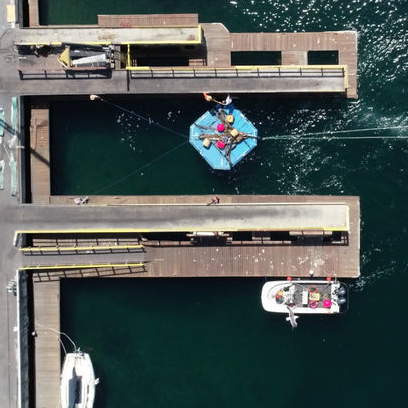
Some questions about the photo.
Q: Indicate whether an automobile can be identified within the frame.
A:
No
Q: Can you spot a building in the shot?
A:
No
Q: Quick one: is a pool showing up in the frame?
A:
No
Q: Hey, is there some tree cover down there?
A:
No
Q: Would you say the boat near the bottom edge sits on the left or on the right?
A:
left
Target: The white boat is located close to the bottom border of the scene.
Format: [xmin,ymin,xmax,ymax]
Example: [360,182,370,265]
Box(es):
[61,350,99,408]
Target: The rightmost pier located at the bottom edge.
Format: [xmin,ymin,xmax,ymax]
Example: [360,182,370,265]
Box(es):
[34,278,63,408]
